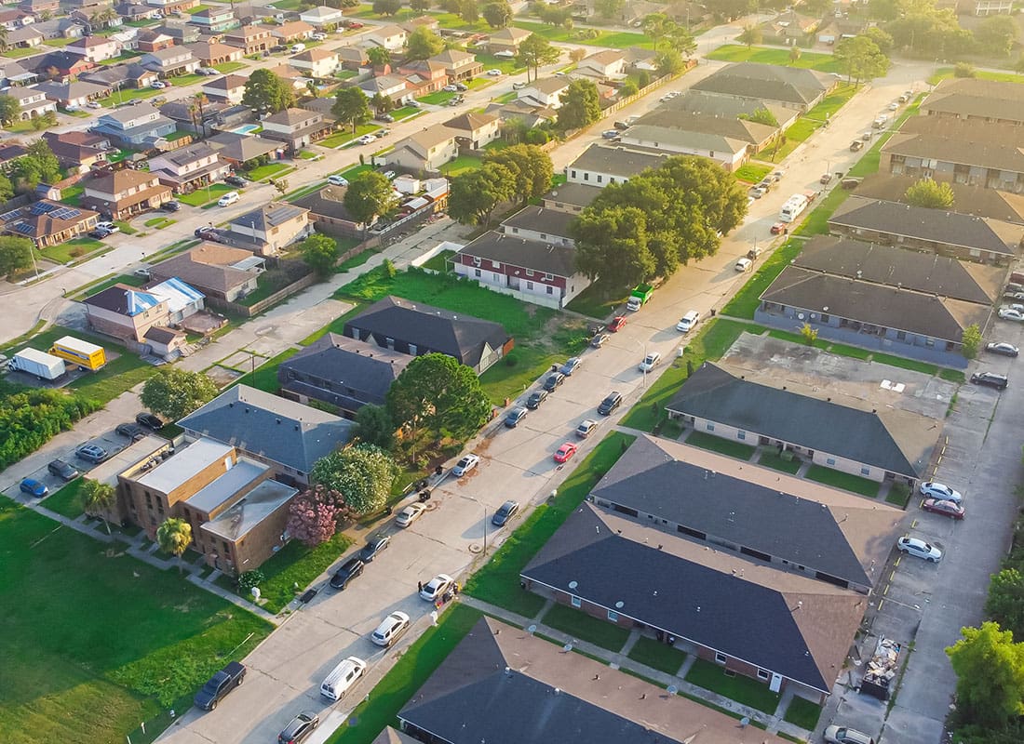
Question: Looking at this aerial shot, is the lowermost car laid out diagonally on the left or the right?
left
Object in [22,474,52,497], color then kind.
blue car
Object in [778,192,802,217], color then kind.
white camper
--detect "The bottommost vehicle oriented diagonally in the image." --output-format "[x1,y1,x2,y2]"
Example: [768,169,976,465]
[264,711,310,744]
